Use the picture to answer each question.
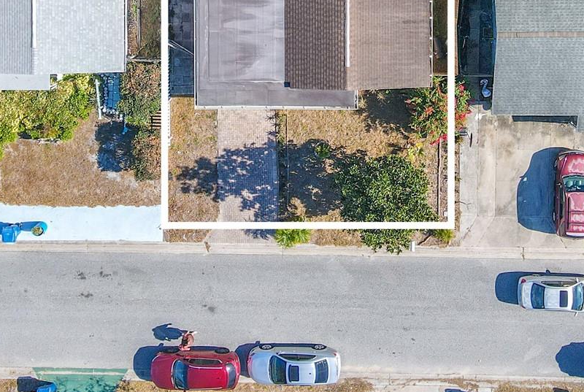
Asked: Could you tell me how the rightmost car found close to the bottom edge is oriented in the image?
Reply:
from left to right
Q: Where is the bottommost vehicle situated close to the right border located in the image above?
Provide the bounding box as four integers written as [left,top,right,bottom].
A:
[517,271,584,312]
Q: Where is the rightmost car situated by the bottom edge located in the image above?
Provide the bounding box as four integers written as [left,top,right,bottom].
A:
[246,343,341,385]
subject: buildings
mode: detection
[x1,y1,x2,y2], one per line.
[193,0,435,111]
[0,0,131,90]
[493,0,584,132]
